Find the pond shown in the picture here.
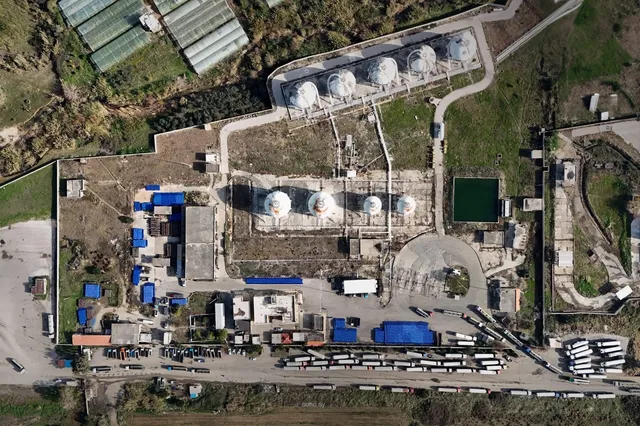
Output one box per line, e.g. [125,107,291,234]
[453,177,500,222]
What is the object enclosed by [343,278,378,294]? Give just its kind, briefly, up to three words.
shed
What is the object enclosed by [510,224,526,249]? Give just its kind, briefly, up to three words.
building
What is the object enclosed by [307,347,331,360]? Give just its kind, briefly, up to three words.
vehicle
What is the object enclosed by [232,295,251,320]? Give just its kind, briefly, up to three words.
house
